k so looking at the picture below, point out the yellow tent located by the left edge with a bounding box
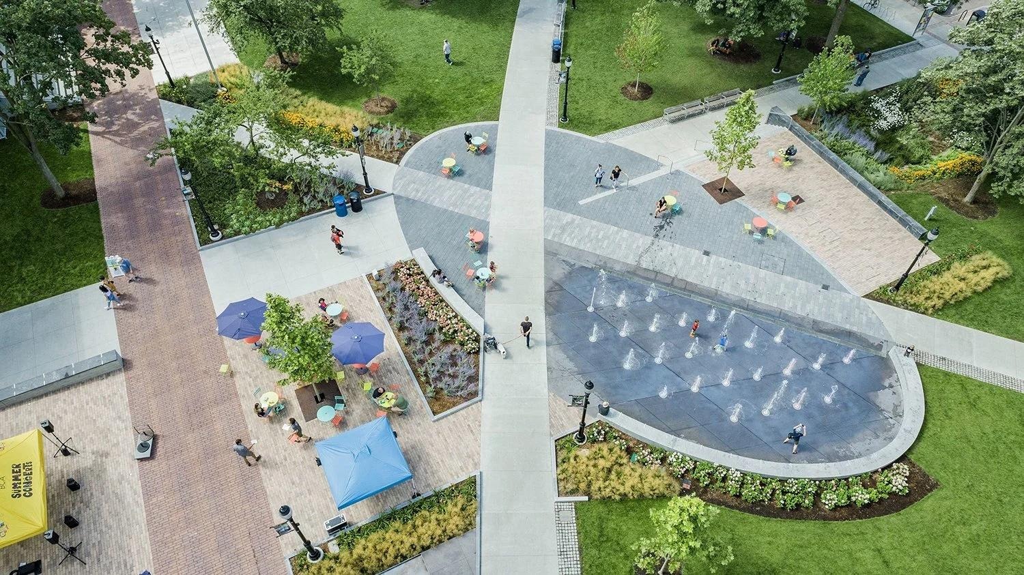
[0,430,82,559]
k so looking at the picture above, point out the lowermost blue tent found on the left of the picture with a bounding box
[315,417,423,535]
